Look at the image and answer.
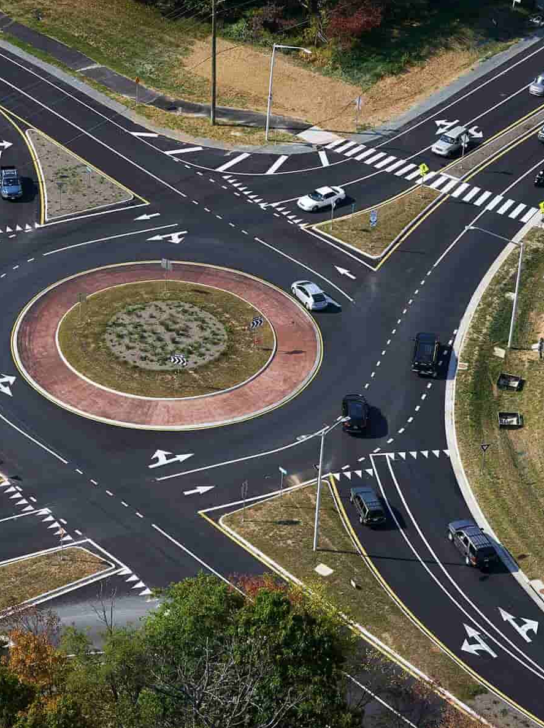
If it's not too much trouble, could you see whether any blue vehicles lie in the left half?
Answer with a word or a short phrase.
Yes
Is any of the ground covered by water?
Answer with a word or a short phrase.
No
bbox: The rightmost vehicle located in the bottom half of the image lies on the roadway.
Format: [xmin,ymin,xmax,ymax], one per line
[445,519,495,566]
